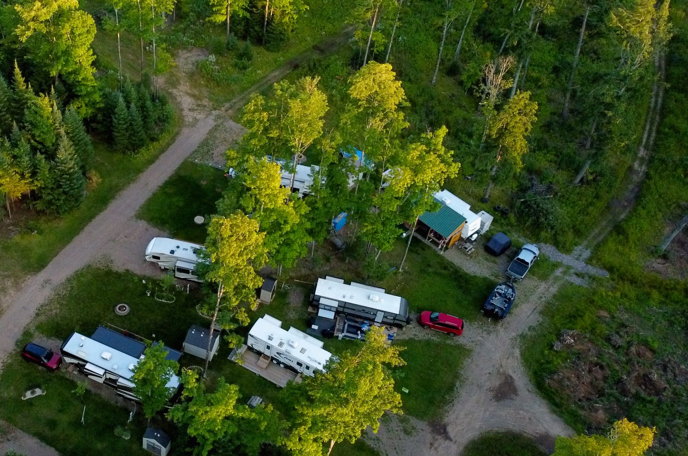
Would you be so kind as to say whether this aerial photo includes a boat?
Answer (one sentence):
Yes, a boat can be made out from above.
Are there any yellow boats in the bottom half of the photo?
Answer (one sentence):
No, I see no yellow boat in the bottom half of the photo.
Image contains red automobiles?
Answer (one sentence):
Yes, looking at the shot, I can spot a red automobile.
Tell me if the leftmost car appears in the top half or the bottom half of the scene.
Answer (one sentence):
It is in the bottom half that the leftmost car appears.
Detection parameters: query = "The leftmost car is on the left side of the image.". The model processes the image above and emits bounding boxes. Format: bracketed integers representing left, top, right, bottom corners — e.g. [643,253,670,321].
[20,339,66,373]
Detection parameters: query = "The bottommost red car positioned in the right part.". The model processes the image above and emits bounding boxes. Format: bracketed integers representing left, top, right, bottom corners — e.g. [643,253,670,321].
[417,309,468,338]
